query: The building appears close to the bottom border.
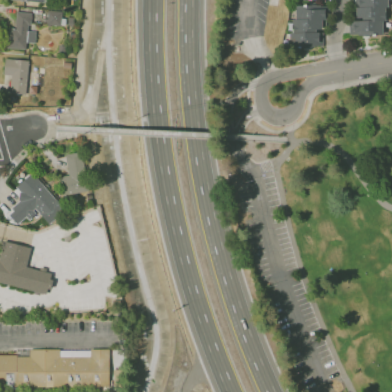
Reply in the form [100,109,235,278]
[0,348,110,386]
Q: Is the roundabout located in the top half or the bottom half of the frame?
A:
top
